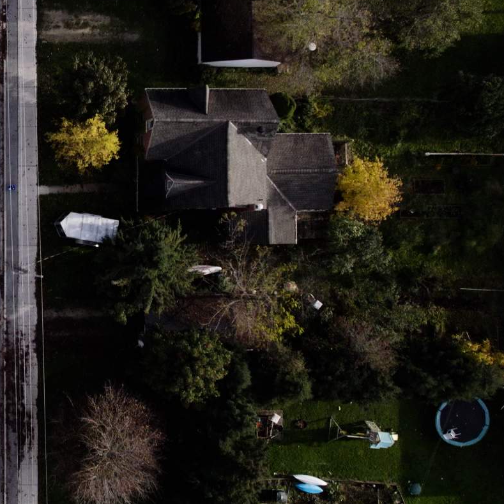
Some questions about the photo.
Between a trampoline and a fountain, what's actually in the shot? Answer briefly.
trampoline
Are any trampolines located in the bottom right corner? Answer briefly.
Yes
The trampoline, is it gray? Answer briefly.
No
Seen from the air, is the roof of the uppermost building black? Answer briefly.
Yes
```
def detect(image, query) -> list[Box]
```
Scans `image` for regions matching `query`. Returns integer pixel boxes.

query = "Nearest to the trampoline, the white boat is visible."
[293,474,328,487]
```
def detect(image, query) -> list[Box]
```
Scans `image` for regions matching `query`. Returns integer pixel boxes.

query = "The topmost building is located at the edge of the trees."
[193,0,280,66]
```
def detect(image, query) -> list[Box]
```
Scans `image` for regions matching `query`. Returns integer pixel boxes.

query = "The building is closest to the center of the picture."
[127,79,342,244]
